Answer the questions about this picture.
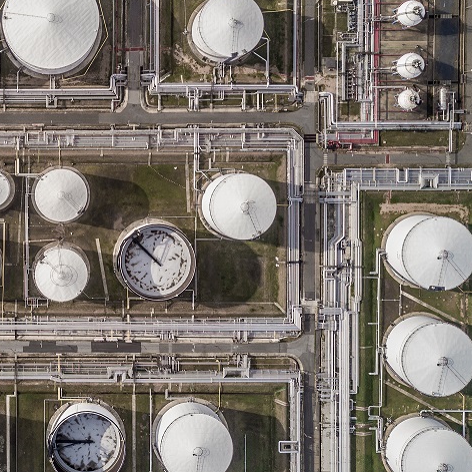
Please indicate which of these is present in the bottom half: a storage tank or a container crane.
storage tank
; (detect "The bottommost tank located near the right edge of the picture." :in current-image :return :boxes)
[372,412,472,472]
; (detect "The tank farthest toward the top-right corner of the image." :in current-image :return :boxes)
[380,0,427,32]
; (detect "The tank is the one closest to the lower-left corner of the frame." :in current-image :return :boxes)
[45,389,127,472]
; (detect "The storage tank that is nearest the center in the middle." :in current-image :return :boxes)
[194,156,281,244]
